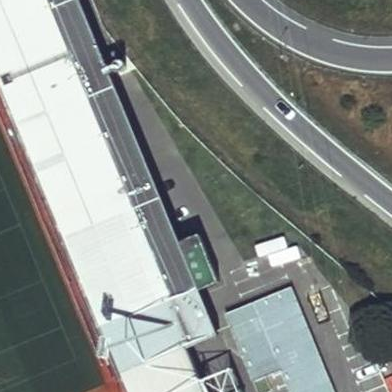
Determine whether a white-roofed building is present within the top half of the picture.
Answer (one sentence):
No, no white-roofed building appears within the top half of the picture.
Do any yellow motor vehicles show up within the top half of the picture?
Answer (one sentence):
No, no yellow motor vehicle can be made out within the top half of the picture.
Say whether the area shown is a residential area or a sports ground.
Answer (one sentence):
The area seen from above is a sports ground.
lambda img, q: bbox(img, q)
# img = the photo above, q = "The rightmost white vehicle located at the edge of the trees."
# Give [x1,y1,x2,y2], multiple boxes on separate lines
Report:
[356,365,380,381]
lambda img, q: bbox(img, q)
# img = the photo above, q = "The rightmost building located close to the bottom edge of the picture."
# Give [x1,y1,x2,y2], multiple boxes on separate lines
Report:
[226,286,336,392]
